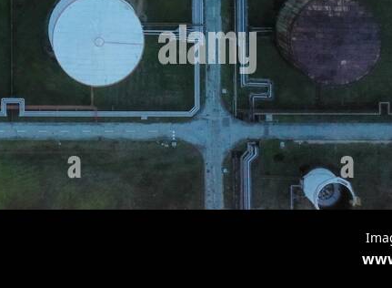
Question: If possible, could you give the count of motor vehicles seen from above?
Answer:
0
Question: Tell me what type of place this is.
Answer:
industrial area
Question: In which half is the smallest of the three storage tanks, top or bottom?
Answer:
bottom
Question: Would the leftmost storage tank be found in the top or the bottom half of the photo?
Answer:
top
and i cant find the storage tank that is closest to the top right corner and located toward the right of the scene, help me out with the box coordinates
[274,0,382,84]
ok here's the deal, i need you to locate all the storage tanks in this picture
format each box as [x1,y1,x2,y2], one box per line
[45,0,145,86]
[299,164,360,219]
[274,0,382,84]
